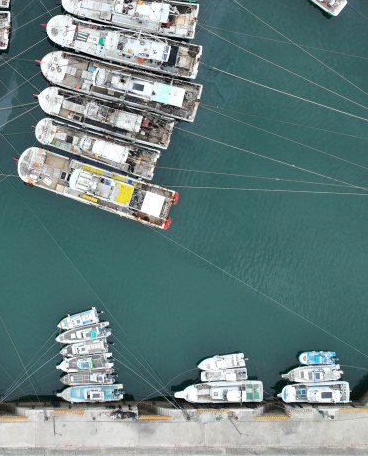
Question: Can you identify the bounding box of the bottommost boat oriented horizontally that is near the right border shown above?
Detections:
[278,380,350,406]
